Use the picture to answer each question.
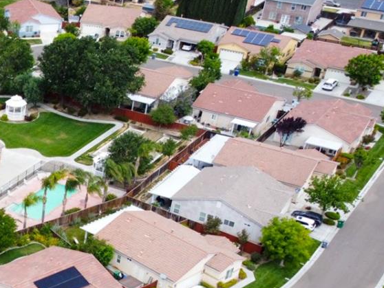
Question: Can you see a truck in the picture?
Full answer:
No, there's no truck here.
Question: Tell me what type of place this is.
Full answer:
It's a residential area.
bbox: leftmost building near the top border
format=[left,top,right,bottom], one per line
[5,0,74,34]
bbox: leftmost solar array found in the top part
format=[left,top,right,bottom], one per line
[167,17,214,31]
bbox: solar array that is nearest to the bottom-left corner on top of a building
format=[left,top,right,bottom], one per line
[34,267,82,288]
